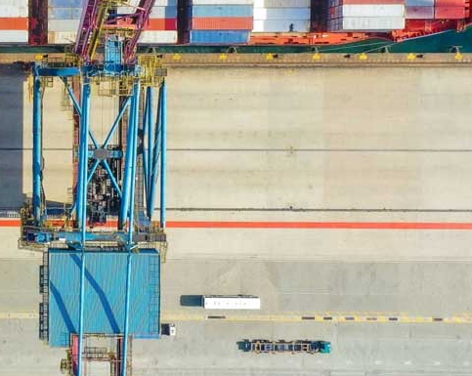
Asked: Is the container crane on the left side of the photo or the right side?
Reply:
left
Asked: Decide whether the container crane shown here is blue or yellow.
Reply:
blue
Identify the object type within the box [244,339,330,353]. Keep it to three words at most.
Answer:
vehicle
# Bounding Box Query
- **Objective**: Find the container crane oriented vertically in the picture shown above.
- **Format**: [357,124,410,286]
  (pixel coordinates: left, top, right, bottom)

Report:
[12,0,176,376]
